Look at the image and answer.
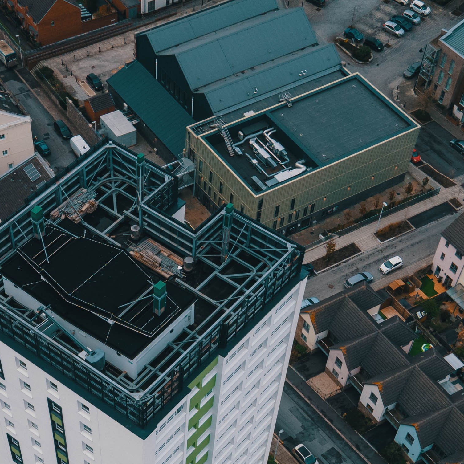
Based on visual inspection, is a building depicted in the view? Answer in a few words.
Yes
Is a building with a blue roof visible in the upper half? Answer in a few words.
Yes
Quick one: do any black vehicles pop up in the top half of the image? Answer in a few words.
Yes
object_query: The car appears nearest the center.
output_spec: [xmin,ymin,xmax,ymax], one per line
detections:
[295,259,322,280]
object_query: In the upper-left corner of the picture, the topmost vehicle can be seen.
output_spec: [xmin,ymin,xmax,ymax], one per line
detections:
[0,39,18,70]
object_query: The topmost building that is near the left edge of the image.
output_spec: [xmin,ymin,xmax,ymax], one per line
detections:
[0,0,82,51]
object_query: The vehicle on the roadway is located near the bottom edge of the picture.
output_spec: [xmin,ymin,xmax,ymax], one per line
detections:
[292,441,320,464]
